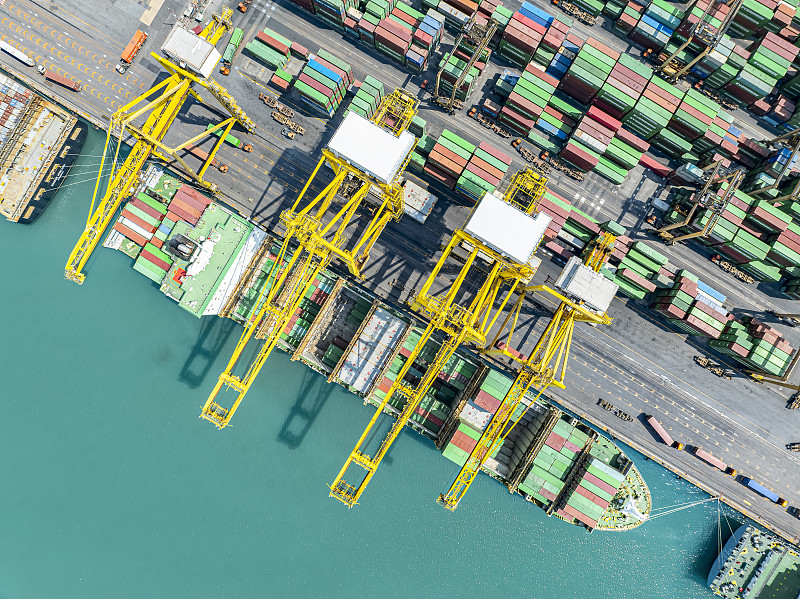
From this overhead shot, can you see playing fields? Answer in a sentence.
No, there is no playing field in the image.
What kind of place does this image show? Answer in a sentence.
This image shows a port.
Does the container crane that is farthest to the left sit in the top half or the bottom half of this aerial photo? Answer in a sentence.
Seen from above, the container crane that is farthest to the left lies in the top half of the view.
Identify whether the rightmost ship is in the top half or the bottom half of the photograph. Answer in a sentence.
The bottom half of the photo is where the rightmost ship is.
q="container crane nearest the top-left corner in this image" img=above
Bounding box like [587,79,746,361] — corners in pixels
[54,3,261,288]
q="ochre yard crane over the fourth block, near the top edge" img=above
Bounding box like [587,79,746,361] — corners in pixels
[654,0,746,84]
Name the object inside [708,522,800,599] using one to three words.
ship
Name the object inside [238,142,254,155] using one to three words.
vehicle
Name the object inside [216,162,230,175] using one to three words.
vehicle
